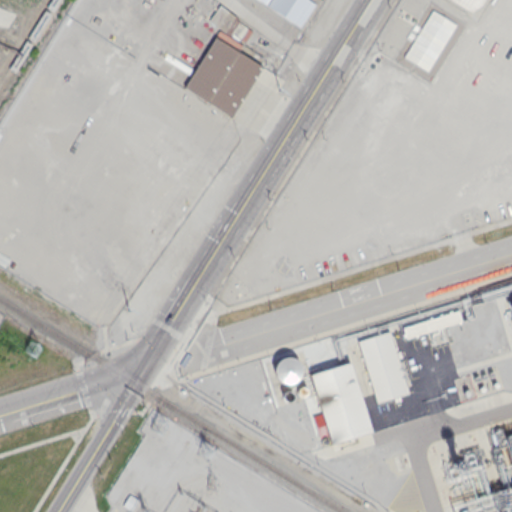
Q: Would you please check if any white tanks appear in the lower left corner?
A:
No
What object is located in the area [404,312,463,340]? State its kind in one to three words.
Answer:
shed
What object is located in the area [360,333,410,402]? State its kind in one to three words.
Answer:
shed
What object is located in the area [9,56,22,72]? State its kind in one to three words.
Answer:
rail car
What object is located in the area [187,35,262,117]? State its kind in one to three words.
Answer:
building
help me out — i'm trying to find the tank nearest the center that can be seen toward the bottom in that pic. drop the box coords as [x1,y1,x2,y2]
[276,357,304,386]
